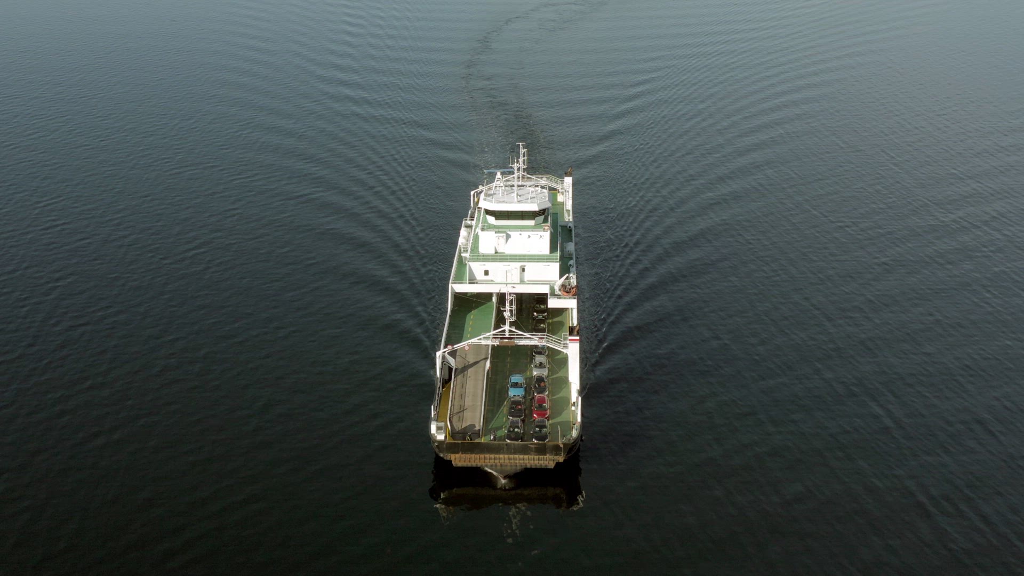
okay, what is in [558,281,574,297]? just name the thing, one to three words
boat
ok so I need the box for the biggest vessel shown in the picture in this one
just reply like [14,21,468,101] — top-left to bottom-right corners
[430,144,582,482]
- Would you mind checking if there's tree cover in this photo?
No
